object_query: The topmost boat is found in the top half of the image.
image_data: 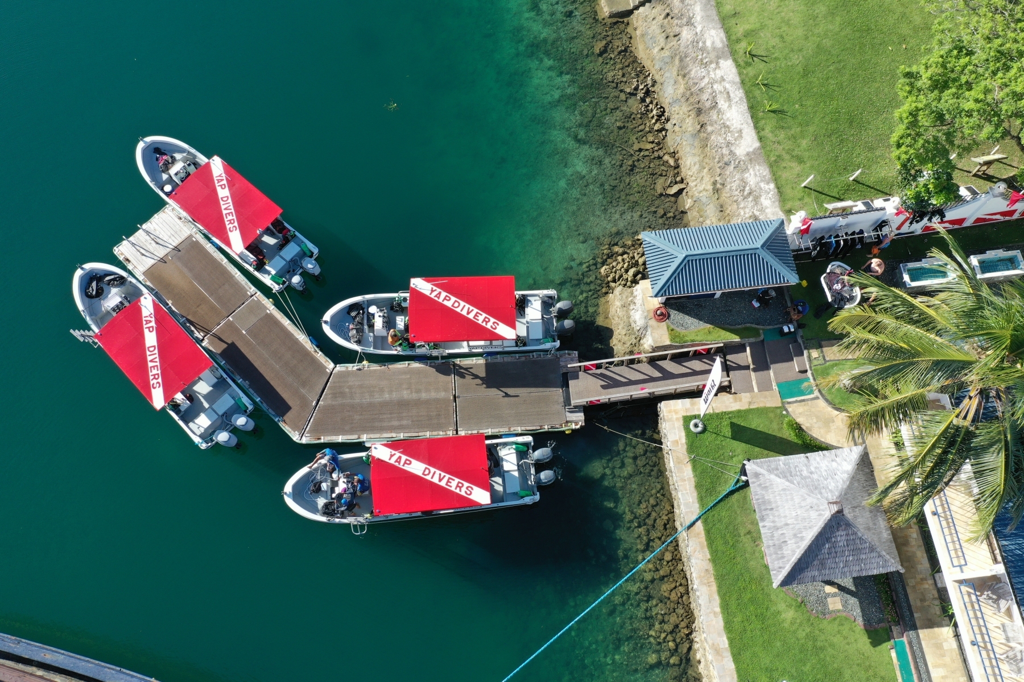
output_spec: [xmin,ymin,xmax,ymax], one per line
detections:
[134,135,330,304]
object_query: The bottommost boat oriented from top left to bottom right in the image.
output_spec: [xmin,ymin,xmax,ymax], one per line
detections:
[70,264,268,462]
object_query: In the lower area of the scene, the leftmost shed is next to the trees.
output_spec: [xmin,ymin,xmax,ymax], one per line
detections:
[744,443,903,590]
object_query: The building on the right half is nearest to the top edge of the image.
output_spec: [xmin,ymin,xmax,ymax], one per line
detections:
[638,216,802,306]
